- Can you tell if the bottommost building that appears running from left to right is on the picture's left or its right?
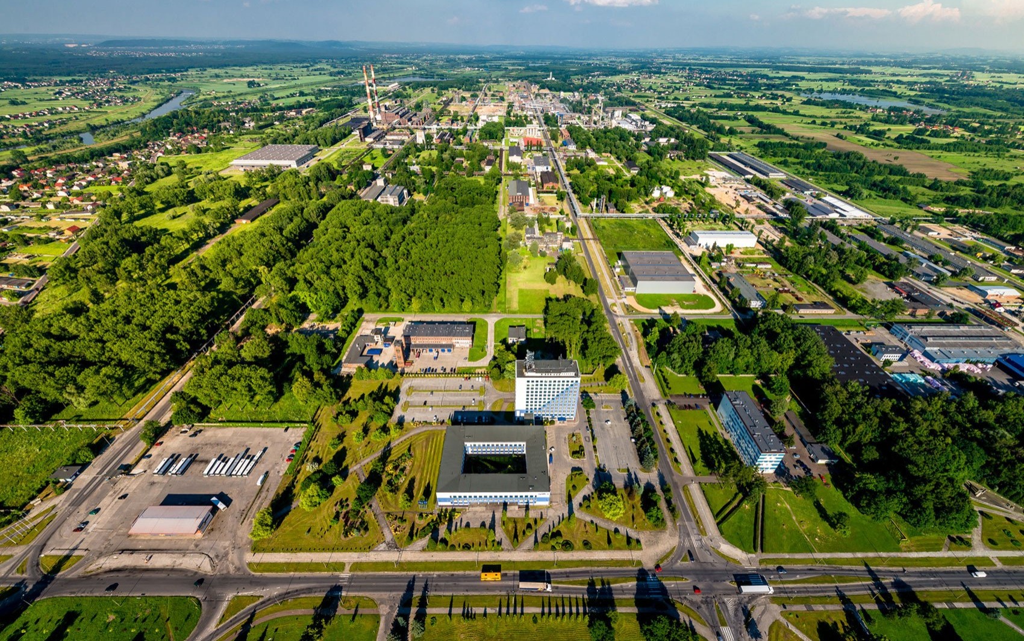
left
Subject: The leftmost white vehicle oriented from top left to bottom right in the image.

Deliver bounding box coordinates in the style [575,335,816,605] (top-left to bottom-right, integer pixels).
[211,496,226,512]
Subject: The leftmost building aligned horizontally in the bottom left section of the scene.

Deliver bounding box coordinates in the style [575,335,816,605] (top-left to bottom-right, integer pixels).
[49,465,85,481]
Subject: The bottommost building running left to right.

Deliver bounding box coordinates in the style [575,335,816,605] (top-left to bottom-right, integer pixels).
[126,505,220,538]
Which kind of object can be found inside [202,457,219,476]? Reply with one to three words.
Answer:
vehicle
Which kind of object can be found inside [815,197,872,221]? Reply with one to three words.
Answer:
shed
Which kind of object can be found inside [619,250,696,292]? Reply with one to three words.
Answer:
building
